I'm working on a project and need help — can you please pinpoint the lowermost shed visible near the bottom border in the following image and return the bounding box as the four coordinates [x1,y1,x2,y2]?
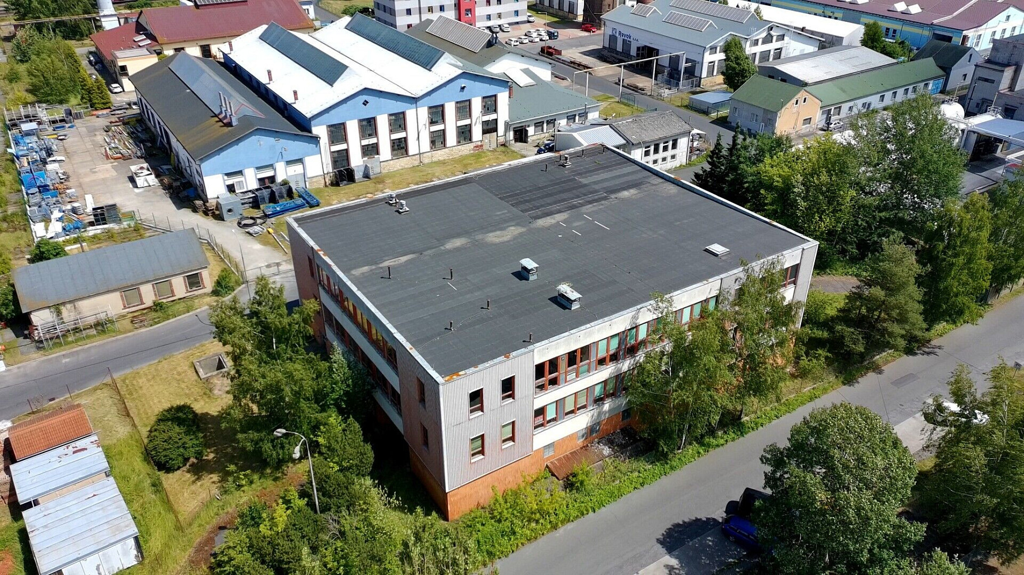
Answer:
[22,472,141,575]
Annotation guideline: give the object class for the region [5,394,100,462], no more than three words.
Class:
shed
